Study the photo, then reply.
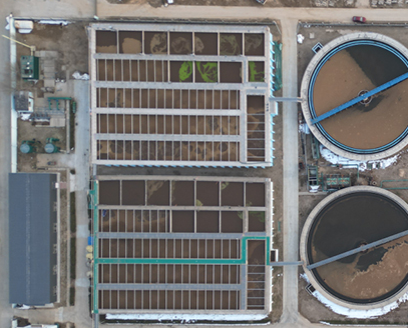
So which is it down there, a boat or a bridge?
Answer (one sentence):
The one in the frame is a bridge.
